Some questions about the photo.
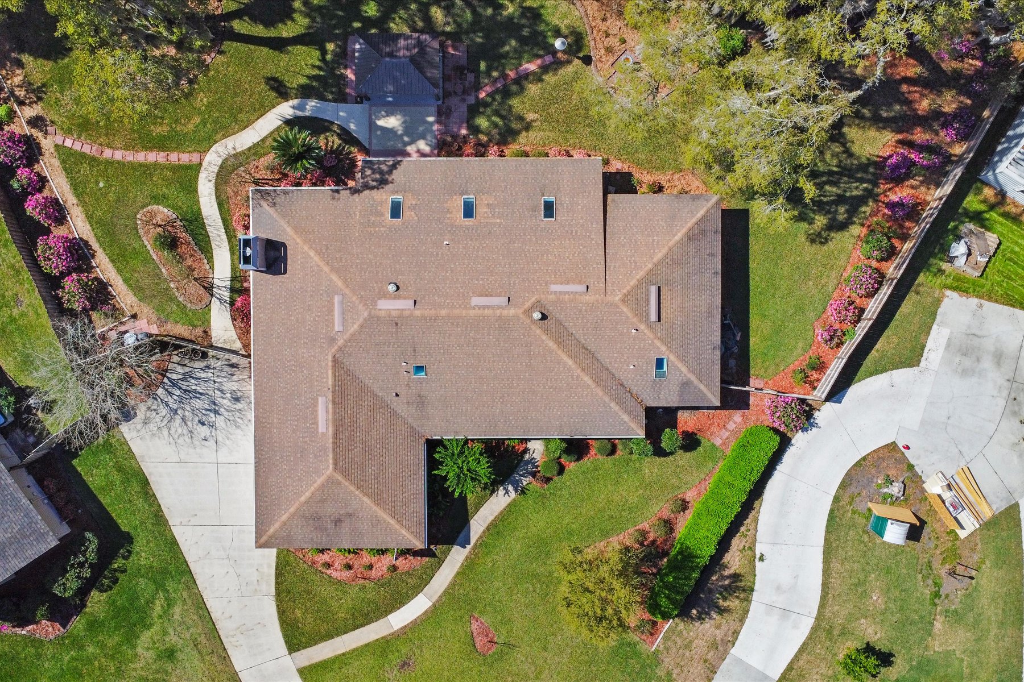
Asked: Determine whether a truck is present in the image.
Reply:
No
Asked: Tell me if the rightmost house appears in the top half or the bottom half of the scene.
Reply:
top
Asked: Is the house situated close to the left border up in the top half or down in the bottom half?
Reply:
bottom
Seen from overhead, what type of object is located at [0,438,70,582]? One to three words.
house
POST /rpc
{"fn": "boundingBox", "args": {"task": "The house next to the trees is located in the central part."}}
[232,155,721,565]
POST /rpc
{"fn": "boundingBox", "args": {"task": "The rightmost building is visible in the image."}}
[979,110,1024,206]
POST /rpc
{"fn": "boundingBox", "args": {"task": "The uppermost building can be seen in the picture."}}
[355,32,443,104]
